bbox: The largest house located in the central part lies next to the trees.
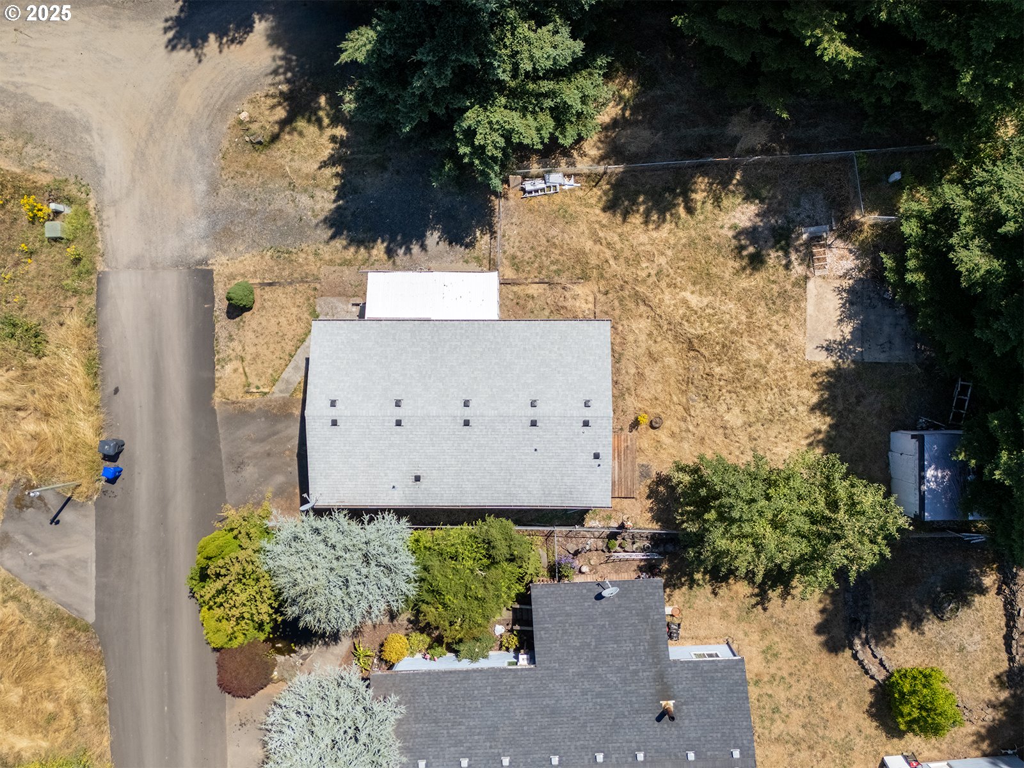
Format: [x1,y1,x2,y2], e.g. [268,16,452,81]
[302,317,615,512]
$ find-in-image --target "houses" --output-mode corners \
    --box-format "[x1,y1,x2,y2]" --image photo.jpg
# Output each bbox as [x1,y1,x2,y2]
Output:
[367,573,761,768]
[302,317,615,512]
